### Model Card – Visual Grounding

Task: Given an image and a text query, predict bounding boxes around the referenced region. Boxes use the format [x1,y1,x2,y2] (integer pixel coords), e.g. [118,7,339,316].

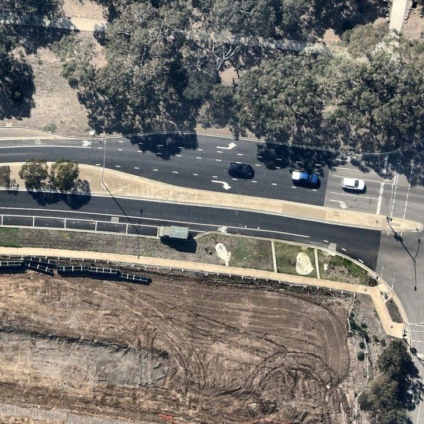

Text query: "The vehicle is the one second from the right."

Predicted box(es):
[290,170,321,185]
